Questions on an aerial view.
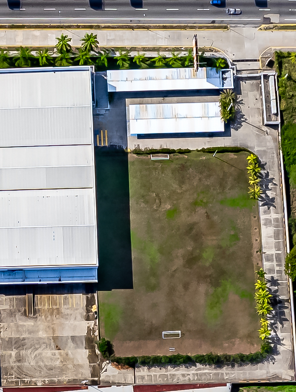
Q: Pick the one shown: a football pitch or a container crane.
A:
football pitch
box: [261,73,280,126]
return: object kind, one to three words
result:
building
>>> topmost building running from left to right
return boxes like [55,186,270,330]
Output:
[106,67,234,94]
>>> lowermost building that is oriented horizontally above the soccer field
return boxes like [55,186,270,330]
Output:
[129,102,225,137]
